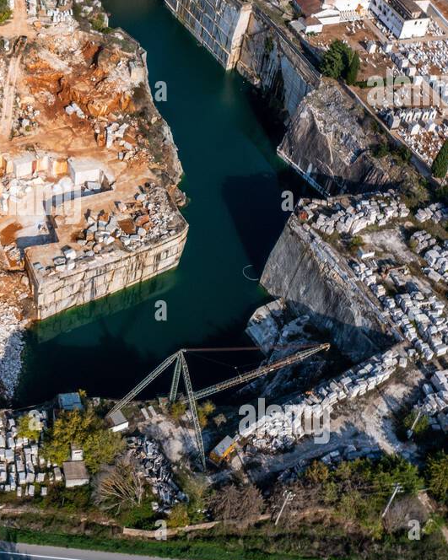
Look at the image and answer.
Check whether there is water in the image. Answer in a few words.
Yes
